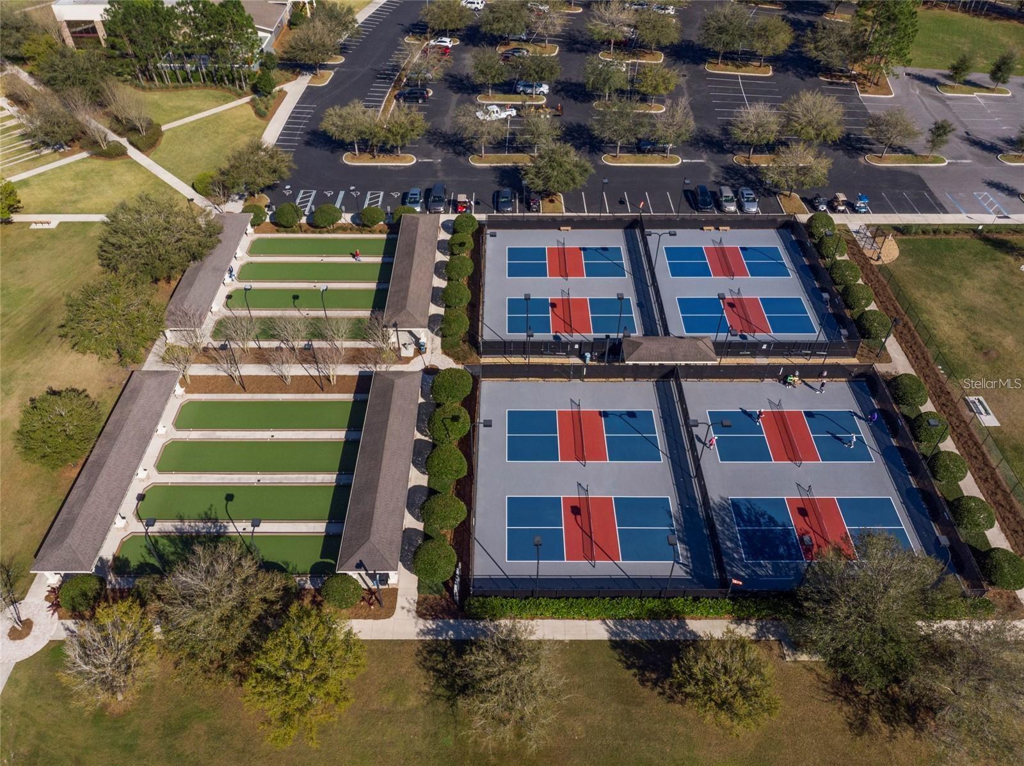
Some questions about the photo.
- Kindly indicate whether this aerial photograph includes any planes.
No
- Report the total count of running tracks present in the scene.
0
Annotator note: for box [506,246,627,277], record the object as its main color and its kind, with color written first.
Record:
blue sports court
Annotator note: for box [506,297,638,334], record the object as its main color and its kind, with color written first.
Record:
blue sports court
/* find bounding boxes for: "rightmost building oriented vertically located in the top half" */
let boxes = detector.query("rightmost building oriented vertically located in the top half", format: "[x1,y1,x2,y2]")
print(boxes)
[381,213,441,349]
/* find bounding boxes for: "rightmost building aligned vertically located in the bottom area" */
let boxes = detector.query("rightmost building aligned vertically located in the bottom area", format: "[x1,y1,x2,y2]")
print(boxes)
[335,370,423,584]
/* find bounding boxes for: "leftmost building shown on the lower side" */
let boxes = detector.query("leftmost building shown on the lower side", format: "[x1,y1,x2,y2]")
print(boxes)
[28,369,186,585]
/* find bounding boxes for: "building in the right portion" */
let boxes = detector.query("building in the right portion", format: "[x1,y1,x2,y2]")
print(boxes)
[621,336,719,364]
